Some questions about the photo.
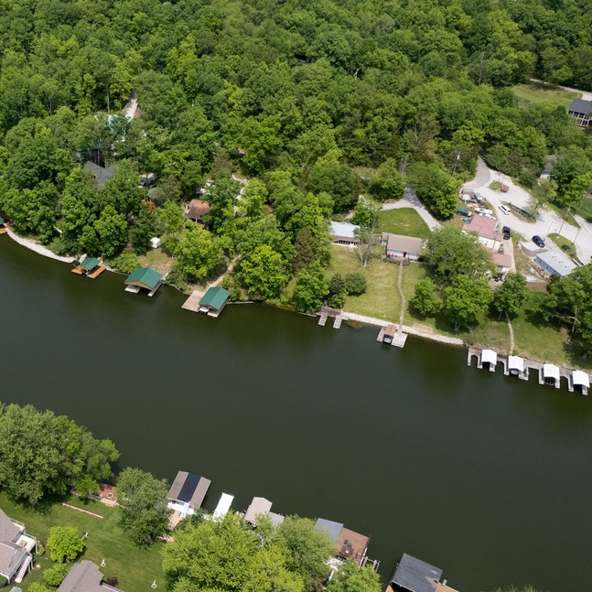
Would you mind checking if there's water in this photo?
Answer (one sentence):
Yes, water shows up in the scene.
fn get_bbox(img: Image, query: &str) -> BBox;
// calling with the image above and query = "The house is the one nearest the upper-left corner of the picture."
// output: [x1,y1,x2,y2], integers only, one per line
[80,161,112,186]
